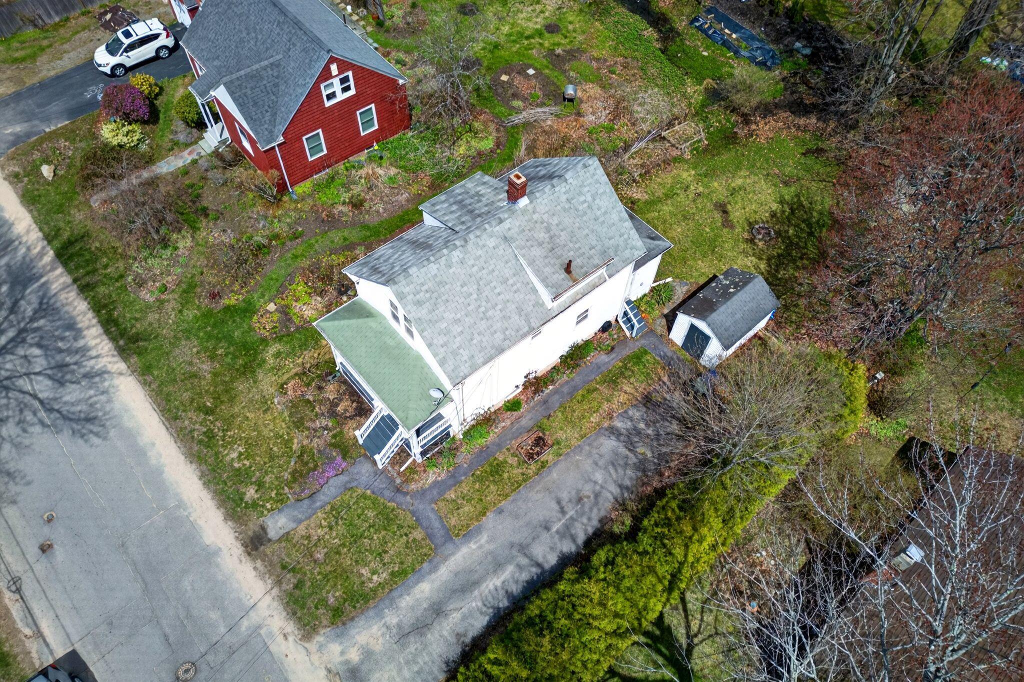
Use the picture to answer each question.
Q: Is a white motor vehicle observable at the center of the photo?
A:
No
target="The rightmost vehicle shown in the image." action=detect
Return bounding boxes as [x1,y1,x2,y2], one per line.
[84,13,175,76]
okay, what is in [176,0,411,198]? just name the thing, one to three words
house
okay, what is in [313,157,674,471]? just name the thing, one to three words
house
